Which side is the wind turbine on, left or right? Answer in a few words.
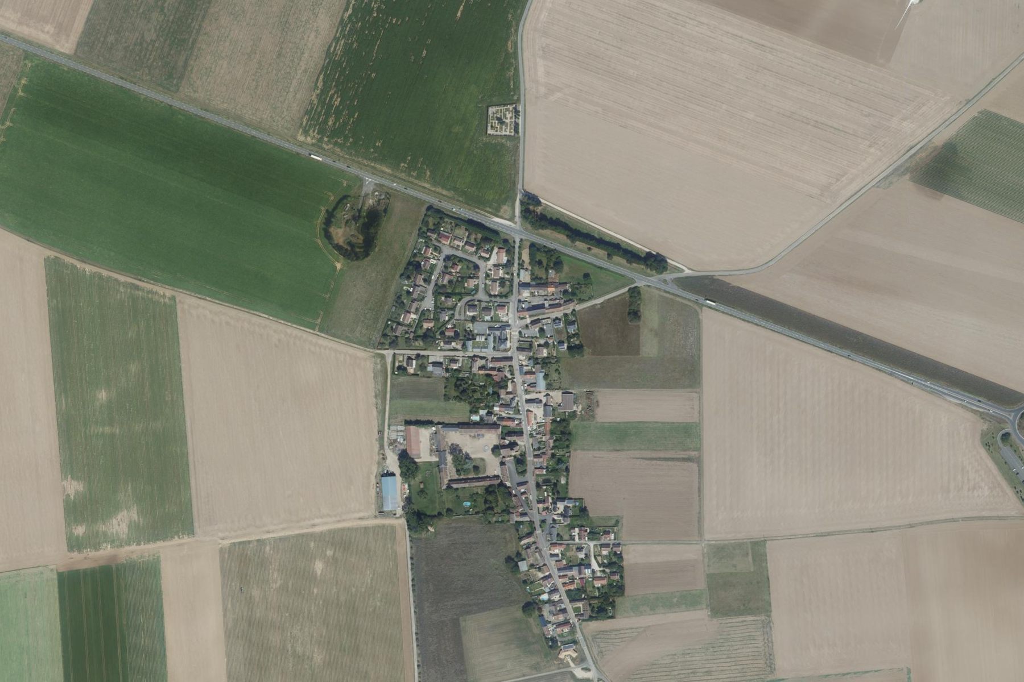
right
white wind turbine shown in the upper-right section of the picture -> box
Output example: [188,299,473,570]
[896,0,917,32]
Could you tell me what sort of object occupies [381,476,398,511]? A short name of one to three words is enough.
barn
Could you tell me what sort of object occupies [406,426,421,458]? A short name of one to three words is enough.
barn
